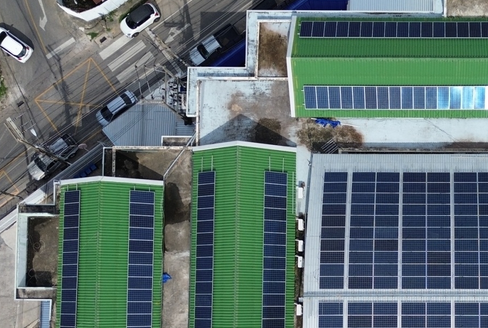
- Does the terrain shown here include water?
No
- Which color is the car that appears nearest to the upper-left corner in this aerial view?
white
